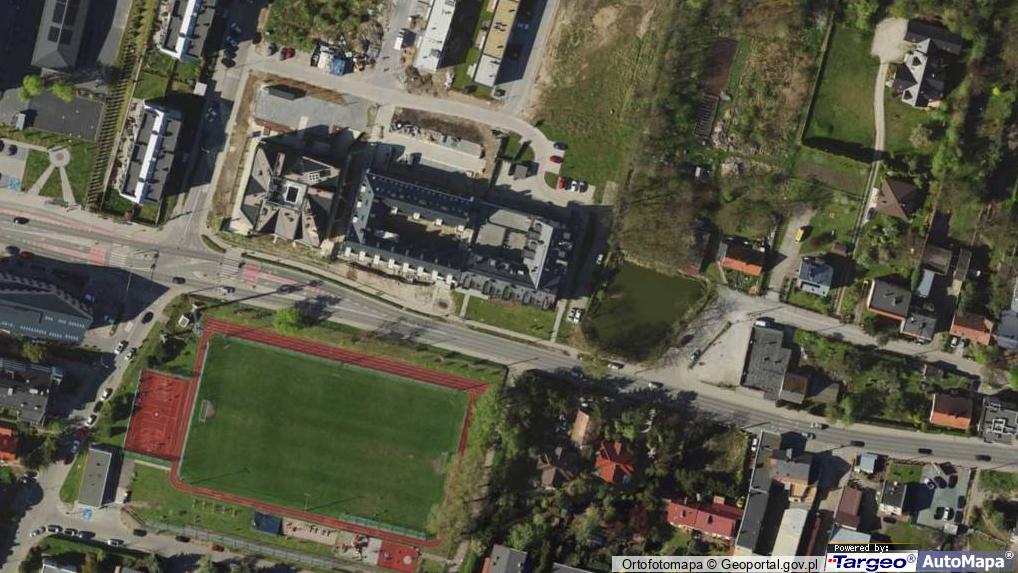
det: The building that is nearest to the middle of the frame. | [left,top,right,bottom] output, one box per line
[461,201,572,311]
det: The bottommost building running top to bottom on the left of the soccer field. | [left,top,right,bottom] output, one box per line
[79,448,112,509]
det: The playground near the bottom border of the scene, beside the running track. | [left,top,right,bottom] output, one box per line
[332,532,382,567]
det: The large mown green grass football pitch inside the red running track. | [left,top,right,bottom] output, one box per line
[181,332,466,533]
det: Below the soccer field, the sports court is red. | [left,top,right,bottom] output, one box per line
[378,541,420,573]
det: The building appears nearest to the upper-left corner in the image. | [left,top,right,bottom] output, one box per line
[31,0,90,73]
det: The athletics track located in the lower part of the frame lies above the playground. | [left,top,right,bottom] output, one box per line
[171,319,485,547]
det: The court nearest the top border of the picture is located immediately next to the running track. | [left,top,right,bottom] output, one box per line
[122,370,193,466]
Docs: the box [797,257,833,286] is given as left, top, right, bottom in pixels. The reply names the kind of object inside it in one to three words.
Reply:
house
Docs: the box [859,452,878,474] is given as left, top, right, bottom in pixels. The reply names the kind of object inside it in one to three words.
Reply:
shed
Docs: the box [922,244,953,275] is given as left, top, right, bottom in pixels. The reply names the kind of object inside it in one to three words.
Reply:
barn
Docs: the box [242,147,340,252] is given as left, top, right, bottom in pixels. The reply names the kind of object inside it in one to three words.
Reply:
building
